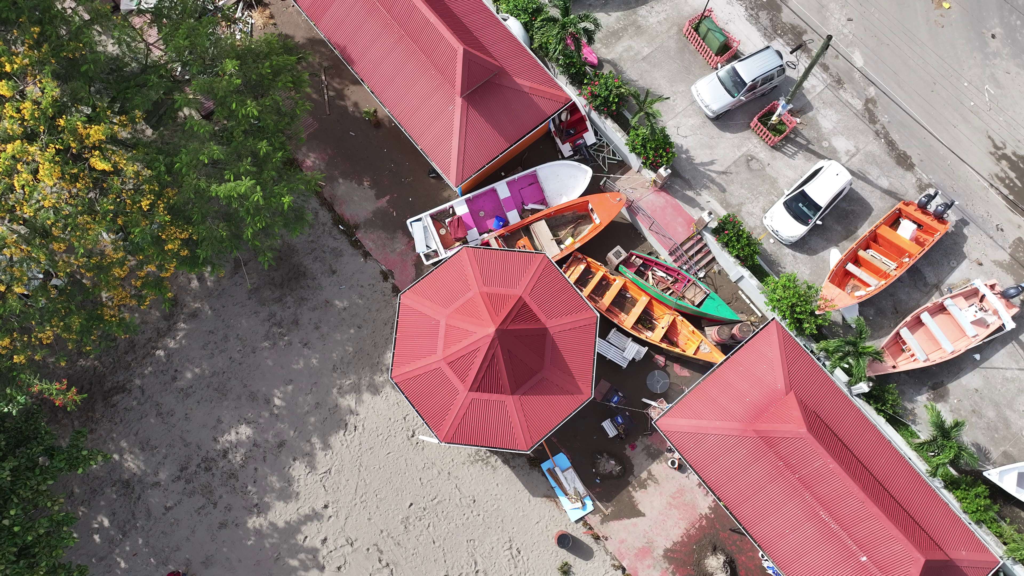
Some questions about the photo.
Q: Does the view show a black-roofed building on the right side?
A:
No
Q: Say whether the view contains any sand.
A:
Yes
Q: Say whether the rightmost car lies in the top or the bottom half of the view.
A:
top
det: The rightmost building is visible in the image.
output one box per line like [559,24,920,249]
[647,312,1009,576]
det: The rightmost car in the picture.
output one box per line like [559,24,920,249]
[762,151,860,245]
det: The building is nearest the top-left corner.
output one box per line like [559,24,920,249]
[286,0,579,198]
